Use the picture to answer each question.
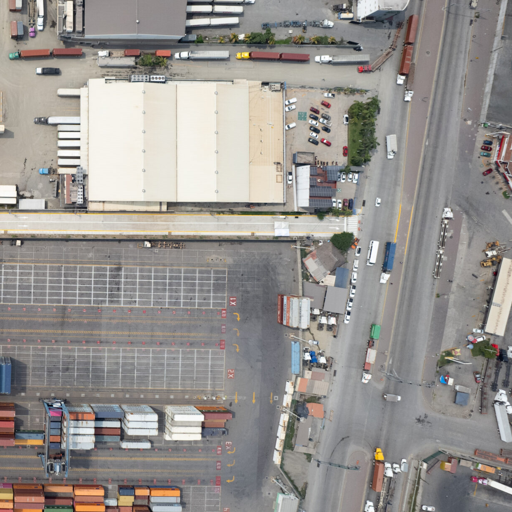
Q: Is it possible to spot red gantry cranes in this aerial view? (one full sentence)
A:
No, I can't see a single red gantry crane in this photo.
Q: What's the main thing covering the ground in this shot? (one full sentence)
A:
The scene is dominated by paved ground.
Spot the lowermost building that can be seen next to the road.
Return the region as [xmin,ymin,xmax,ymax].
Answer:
[268,487,299,512]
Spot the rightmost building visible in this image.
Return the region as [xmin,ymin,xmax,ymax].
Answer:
[485,132,512,194]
